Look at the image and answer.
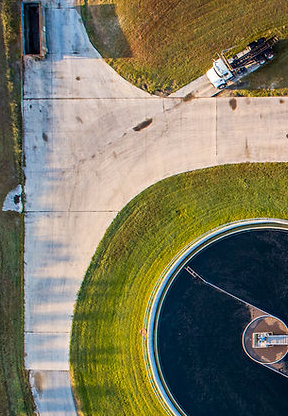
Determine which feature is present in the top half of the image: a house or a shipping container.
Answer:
shipping container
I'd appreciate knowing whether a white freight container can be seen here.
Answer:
No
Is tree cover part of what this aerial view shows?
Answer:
No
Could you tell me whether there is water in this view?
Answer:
Yes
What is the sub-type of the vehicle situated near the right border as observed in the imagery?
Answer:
truck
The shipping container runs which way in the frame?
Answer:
from top to bottom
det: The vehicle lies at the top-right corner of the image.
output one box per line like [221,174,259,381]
[204,33,278,91]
